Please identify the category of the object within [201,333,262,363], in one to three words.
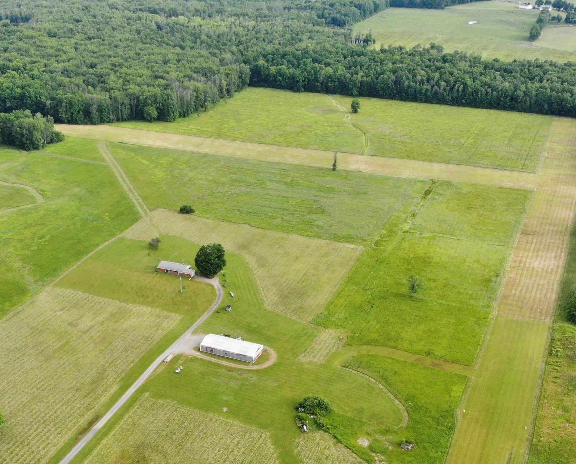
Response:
barn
